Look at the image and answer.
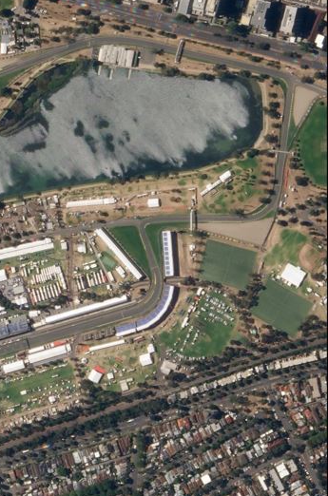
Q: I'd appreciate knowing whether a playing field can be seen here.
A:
Yes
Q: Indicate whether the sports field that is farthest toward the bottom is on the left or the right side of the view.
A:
right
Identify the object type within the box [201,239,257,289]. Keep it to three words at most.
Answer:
sports field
